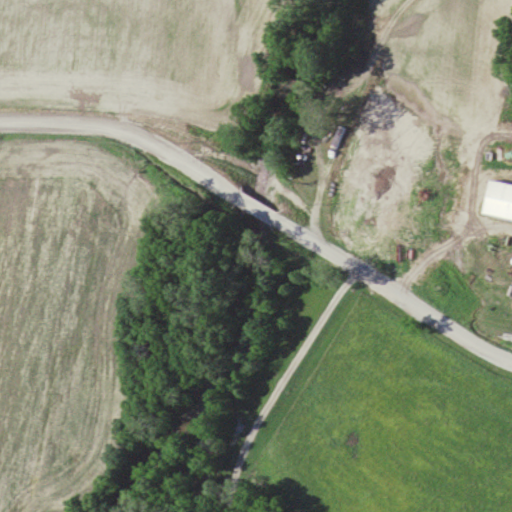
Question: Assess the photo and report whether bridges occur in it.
Yes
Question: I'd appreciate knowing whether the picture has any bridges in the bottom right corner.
No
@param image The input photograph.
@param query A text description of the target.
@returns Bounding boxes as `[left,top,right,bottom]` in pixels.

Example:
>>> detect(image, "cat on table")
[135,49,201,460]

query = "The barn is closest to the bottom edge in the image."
[482,182,512,220]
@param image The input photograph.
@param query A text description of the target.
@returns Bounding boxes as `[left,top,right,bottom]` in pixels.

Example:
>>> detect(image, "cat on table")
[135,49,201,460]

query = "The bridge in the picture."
[230,190,281,230]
